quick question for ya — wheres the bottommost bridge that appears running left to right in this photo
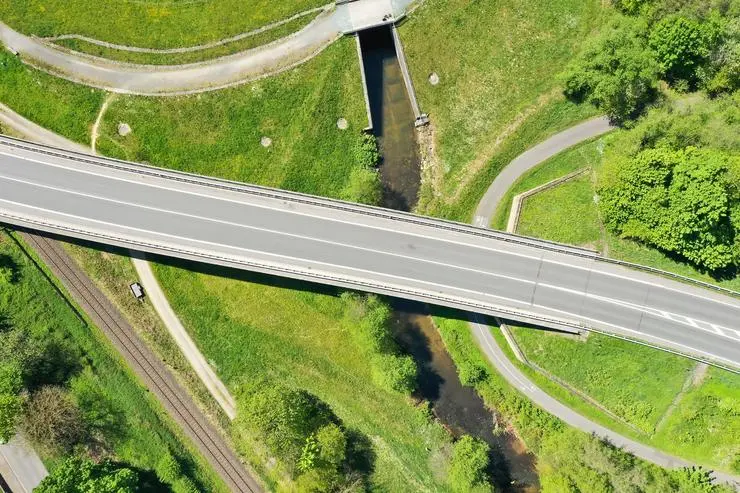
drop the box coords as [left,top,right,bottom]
[0,136,603,335]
